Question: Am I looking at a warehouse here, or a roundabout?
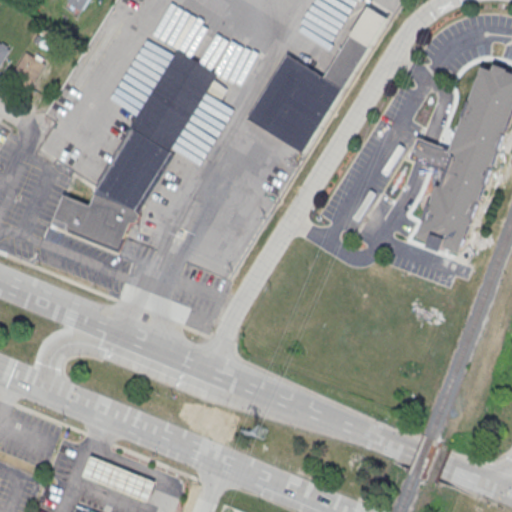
warehouse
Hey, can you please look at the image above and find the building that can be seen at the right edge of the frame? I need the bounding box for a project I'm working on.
[412,64,512,256]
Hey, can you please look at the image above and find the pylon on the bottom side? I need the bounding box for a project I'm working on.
[237,424,274,443]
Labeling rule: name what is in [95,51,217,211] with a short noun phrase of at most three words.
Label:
building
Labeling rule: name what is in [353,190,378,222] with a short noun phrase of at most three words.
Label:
bus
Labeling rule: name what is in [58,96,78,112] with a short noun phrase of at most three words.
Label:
vehicle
